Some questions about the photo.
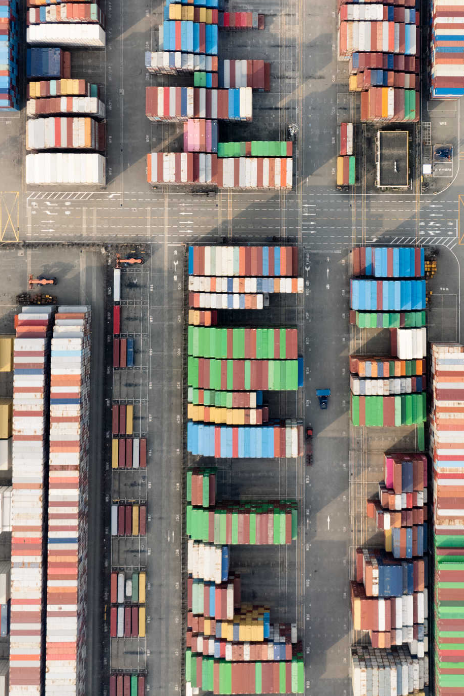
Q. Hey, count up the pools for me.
0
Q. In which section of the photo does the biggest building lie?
top right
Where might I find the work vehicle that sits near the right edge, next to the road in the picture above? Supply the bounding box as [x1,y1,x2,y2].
[435,147,455,159]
